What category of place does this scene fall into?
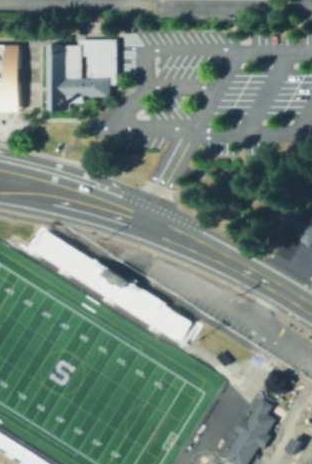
sports ground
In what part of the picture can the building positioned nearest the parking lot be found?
top left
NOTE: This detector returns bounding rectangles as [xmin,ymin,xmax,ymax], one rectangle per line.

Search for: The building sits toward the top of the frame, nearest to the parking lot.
[46,39,118,111]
